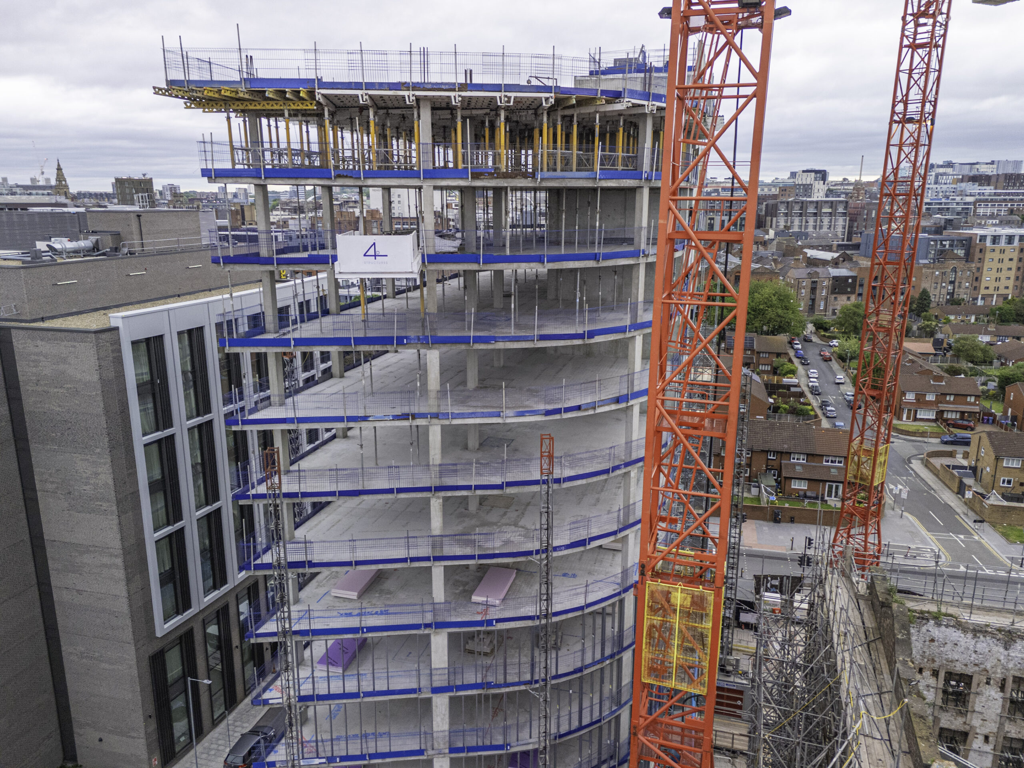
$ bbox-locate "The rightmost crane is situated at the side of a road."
[824,0,951,578]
